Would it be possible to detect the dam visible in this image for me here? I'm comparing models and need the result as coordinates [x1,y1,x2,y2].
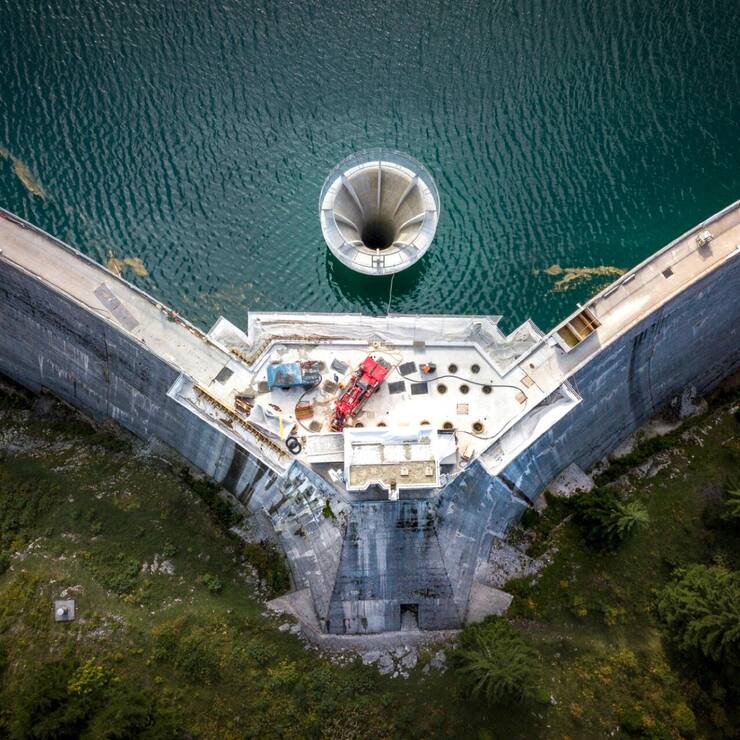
[0,199,740,632]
